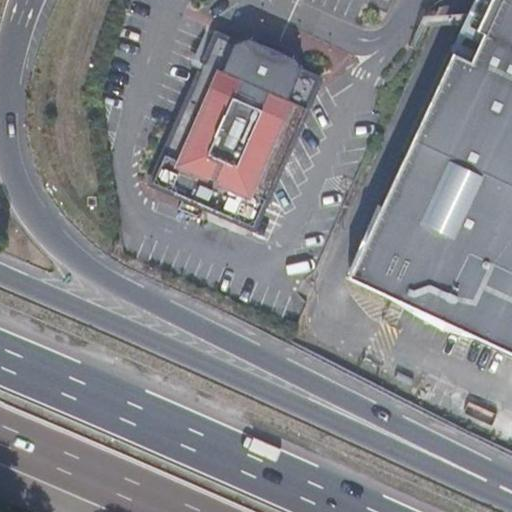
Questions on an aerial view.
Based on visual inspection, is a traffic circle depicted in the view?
No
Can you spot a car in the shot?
Yes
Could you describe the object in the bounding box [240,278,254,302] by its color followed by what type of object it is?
gray vehicle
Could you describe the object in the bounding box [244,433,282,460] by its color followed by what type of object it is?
white truck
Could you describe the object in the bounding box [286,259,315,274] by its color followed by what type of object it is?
white vehicle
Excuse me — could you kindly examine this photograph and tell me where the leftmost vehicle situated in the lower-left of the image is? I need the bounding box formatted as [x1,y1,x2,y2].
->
[14,438,34,452]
